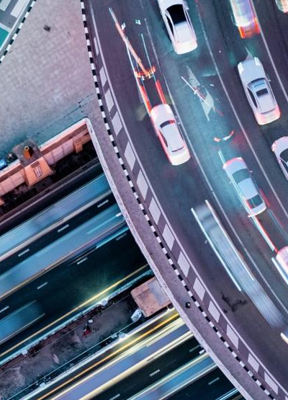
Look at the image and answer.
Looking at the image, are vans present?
Yes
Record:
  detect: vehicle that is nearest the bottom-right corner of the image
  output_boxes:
[165,351,220,392]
